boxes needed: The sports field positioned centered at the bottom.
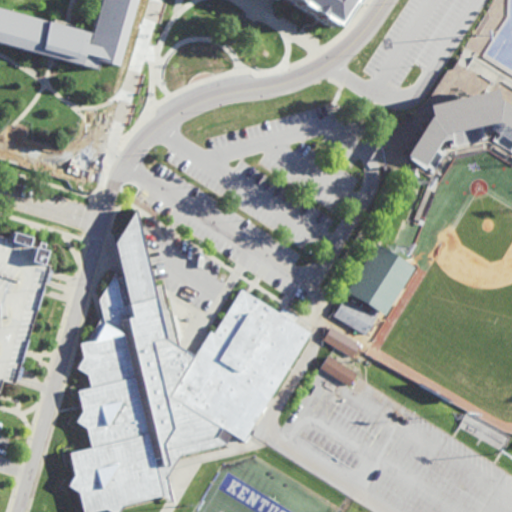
[192,455,348,512]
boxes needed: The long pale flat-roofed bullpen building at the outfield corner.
[458,414,509,449]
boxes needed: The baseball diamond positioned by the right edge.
[366,152,512,434]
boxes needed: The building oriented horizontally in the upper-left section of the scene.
[0,0,141,69]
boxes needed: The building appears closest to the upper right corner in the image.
[303,0,356,29]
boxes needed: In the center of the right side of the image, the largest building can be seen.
[352,245,416,315]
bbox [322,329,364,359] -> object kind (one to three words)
house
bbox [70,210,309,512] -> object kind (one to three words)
building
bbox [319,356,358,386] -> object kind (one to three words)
house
